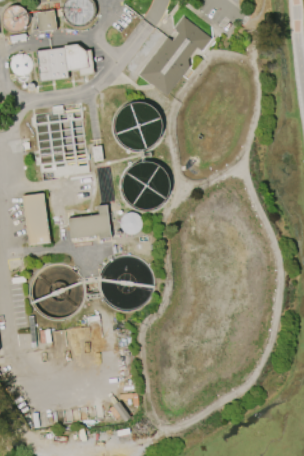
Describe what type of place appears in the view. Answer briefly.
industrial area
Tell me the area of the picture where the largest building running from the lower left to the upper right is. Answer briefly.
top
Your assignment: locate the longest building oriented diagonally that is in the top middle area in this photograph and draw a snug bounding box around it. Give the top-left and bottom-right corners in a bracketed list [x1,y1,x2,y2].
[140,16,210,96]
